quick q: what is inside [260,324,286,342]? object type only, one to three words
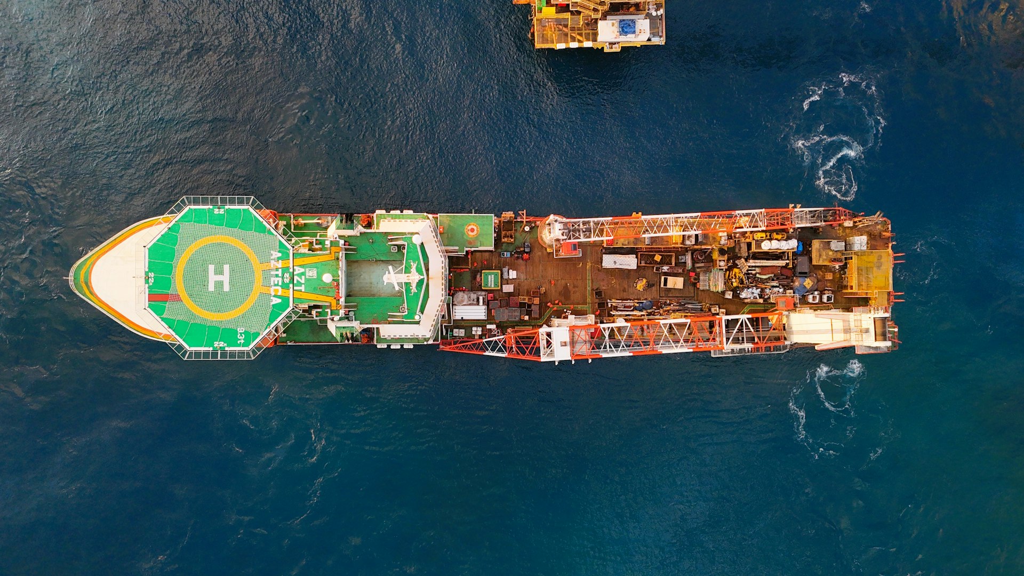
boat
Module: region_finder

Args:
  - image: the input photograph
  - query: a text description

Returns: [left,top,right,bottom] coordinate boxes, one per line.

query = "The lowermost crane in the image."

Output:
[439,294,893,365]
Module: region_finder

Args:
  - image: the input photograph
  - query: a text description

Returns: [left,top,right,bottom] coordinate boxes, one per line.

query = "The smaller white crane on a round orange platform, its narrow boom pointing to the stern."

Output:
[537,203,865,258]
